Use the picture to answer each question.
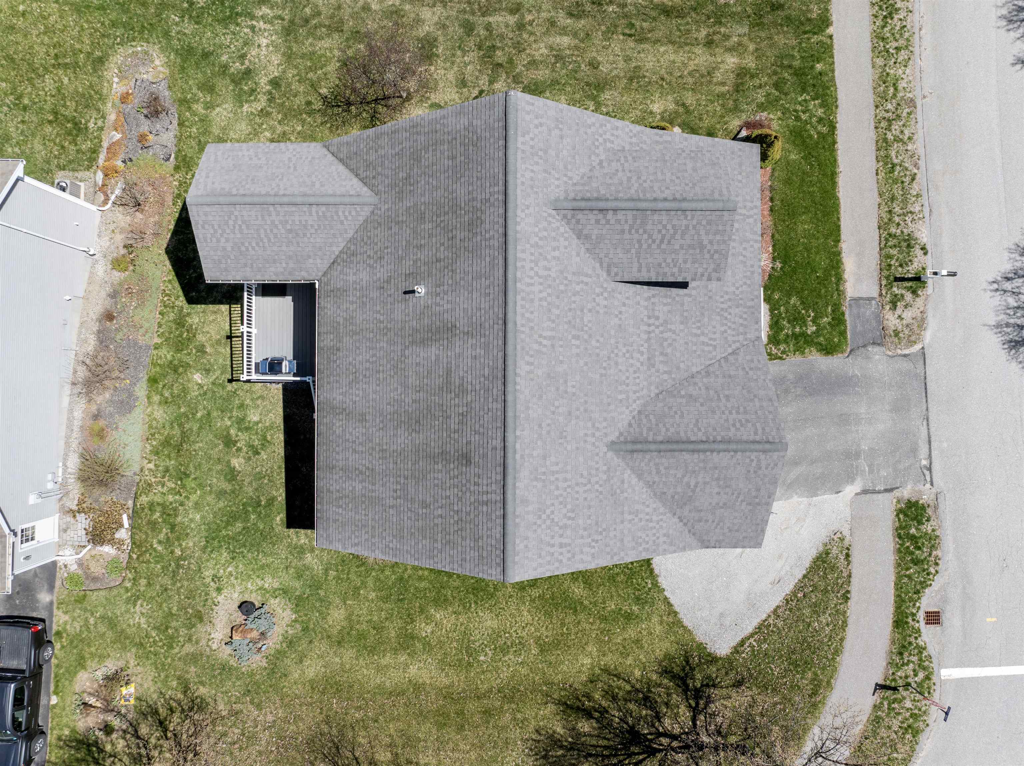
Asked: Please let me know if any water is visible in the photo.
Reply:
No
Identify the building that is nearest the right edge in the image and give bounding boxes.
[185,90,789,584]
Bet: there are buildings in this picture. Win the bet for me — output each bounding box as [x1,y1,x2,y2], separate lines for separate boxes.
[0,156,125,598]
[185,90,789,584]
